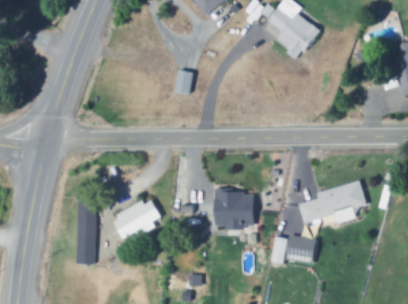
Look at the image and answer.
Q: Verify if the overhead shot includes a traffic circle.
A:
No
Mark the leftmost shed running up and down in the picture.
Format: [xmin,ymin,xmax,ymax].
[78,199,96,264]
